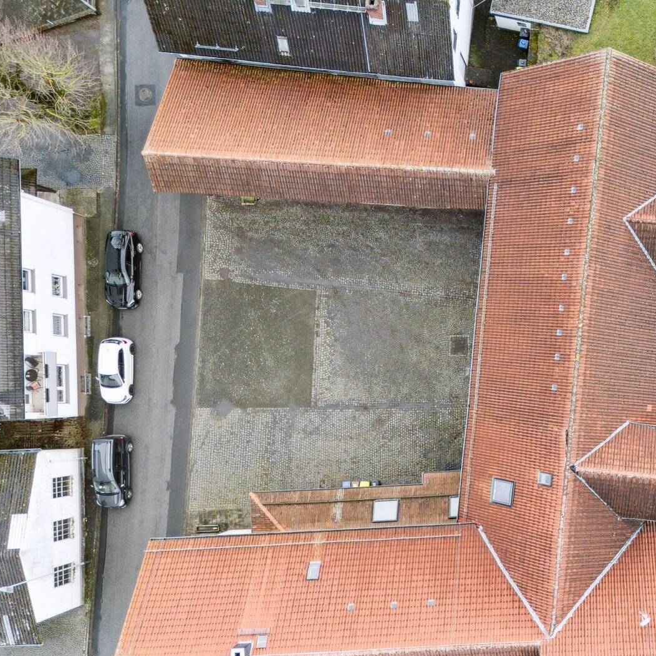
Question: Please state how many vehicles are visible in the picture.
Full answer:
The count of vehicles comes to 3.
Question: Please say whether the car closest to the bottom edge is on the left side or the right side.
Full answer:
It is on the left.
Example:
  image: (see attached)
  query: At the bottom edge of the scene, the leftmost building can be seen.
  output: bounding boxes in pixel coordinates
[0,447,84,647]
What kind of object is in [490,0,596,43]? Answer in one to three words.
building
